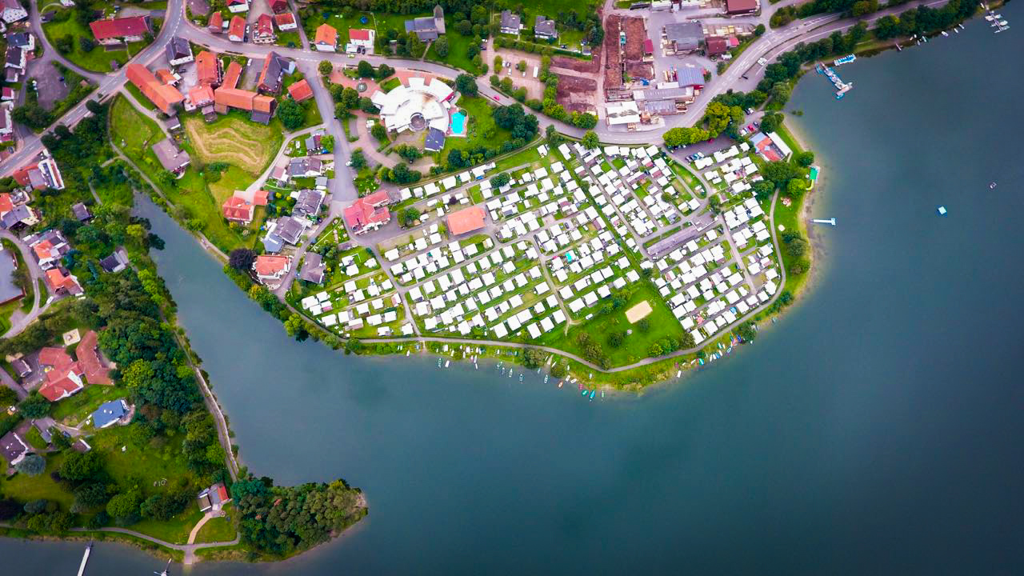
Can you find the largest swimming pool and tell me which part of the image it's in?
top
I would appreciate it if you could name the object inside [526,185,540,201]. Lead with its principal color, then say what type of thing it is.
white camper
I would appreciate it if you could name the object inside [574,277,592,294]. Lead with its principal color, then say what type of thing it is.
white camper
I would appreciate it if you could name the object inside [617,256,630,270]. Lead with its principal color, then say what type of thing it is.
white vehicle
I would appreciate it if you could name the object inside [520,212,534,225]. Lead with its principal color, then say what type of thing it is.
white vehicle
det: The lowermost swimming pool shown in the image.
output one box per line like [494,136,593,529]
[447,106,468,137]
